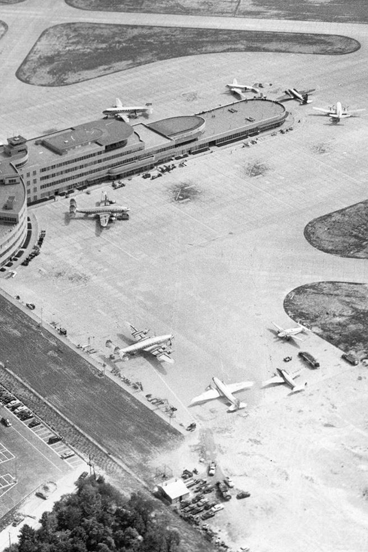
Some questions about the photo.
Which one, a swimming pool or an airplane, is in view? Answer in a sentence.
Looking from above, you can make out an airplane.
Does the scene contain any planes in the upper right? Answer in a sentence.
Yes, a plane appears in the upper right.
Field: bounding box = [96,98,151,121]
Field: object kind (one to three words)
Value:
airplane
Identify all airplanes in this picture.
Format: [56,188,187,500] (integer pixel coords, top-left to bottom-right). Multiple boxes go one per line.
[186,375,257,410]
[96,98,151,121]
[257,367,310,394]
[114,319,185,363]
[274,322,309,344]
[270,86,317,104]
[72,190,133,225]
[310,99,363,115]
[223,78,262,95]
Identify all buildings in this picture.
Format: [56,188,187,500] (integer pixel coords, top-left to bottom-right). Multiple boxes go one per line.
[0,99,287,274]
[157,478,191,506]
